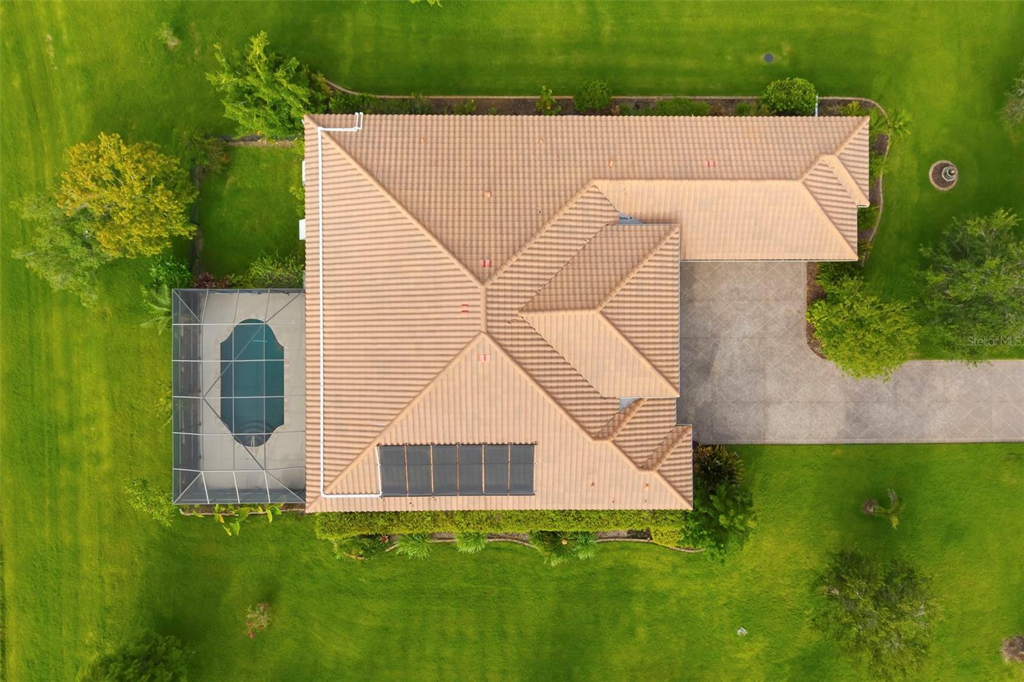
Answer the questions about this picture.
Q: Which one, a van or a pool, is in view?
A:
pool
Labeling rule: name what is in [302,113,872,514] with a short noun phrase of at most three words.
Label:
house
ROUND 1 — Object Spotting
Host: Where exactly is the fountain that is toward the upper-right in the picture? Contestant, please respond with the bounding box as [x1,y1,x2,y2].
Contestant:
[941,166,959,181]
